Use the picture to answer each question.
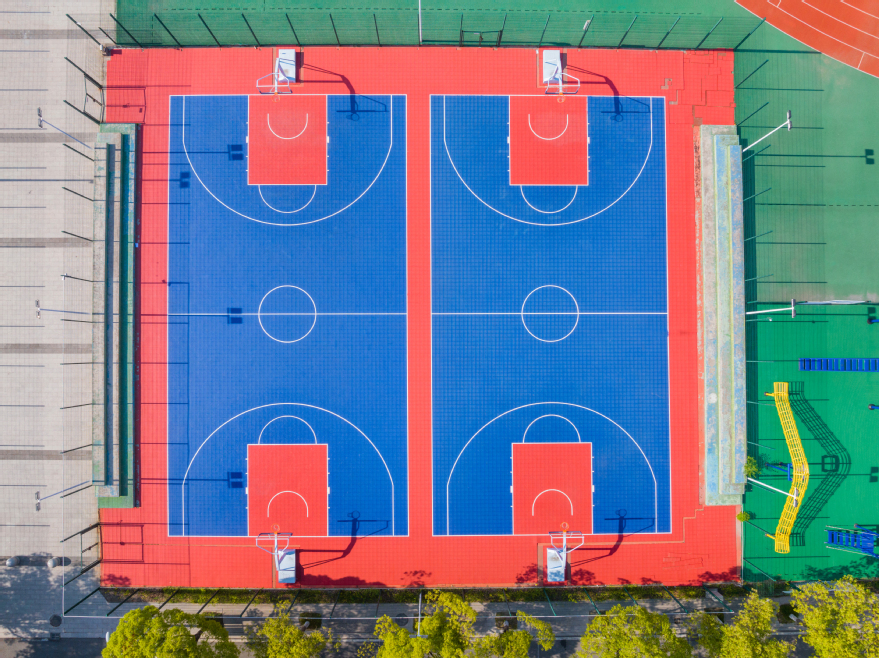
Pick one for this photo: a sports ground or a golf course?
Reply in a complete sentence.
This looks like a sports ground.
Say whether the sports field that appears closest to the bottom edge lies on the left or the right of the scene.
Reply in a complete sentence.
You can find the sports field that appears closest to the bottom edge on the right side of the picture.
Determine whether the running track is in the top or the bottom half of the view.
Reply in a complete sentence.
The running track sits in the top half of the picture.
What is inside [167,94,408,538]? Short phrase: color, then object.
blue basketball court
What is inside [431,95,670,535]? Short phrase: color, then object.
blue basketball court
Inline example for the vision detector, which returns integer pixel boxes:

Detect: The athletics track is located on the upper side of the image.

[736,0,879,78]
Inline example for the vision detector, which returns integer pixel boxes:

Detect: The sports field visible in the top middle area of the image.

[116,0,809,46]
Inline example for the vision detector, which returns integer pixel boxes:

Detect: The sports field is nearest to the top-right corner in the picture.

[738,46,879,303]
